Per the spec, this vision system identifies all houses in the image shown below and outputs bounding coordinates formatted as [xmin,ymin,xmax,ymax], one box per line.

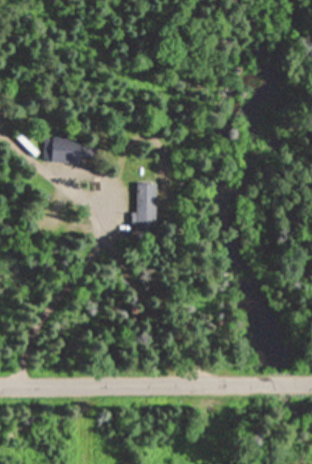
[132,182,158,222]
[52,136,94,164]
